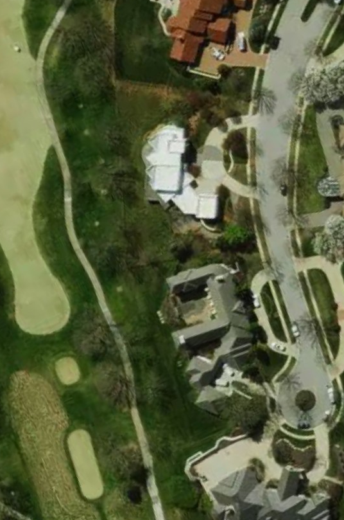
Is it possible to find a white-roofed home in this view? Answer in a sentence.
Yes, you can see a white-roofed home in this photo.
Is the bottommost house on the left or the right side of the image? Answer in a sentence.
You can find the bottommost house on the right side of the picture.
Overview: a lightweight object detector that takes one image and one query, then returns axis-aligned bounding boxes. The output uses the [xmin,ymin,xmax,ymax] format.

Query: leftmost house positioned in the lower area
[164,258,255,418]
